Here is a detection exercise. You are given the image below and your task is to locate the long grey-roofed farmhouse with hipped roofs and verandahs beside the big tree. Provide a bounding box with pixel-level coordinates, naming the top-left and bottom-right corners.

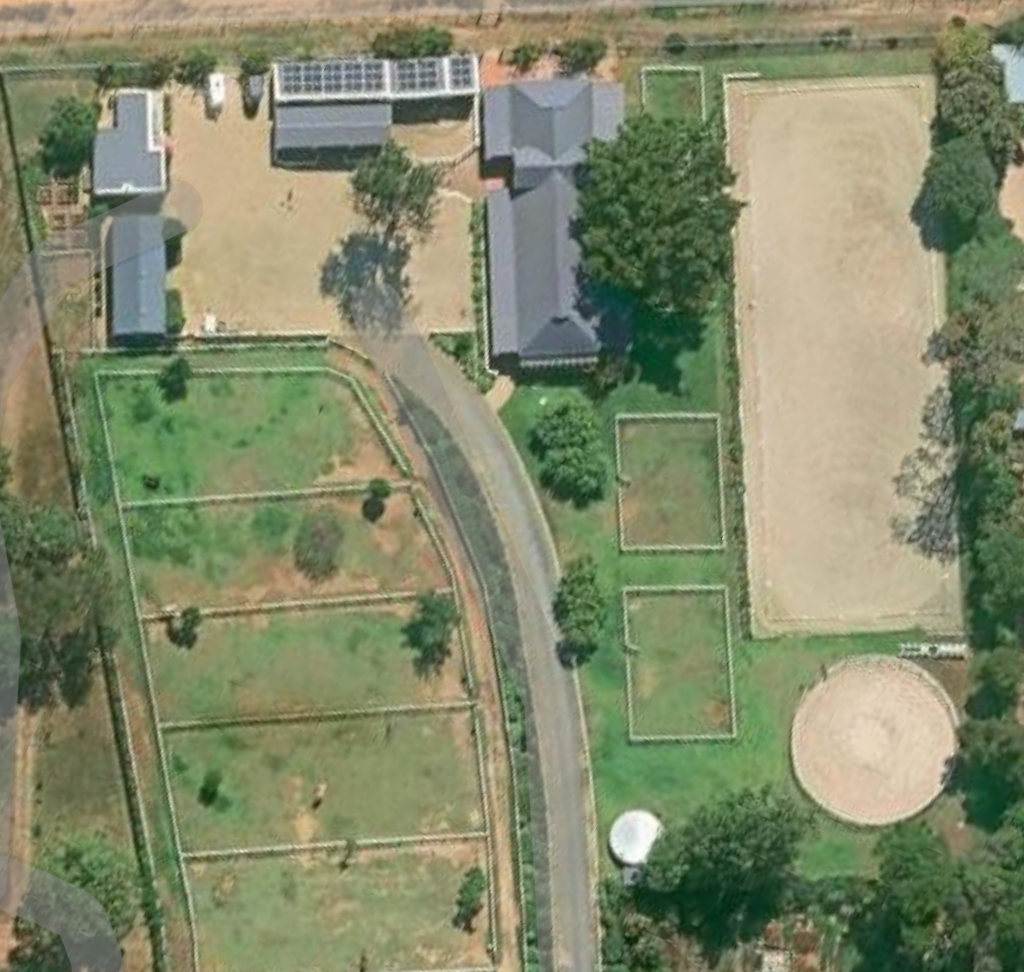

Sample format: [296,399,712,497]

[483,83,626,367]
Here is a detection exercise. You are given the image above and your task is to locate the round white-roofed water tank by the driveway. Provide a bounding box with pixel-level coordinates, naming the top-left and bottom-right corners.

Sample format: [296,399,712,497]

[609,811,663,867]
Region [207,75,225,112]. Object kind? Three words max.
vehicle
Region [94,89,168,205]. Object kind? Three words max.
house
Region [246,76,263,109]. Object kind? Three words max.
car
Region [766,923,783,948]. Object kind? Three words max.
shed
